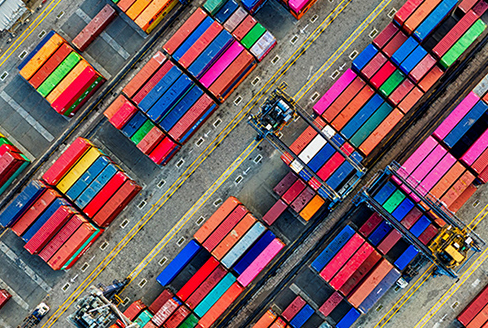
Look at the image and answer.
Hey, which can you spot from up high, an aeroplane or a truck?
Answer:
truck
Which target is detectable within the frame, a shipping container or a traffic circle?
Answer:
shipping container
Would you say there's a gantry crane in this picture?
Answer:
Yes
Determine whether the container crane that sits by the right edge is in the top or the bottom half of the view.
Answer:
bottom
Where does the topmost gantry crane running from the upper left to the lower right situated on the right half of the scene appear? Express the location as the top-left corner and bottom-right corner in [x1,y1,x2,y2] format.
[245,84,371,214]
